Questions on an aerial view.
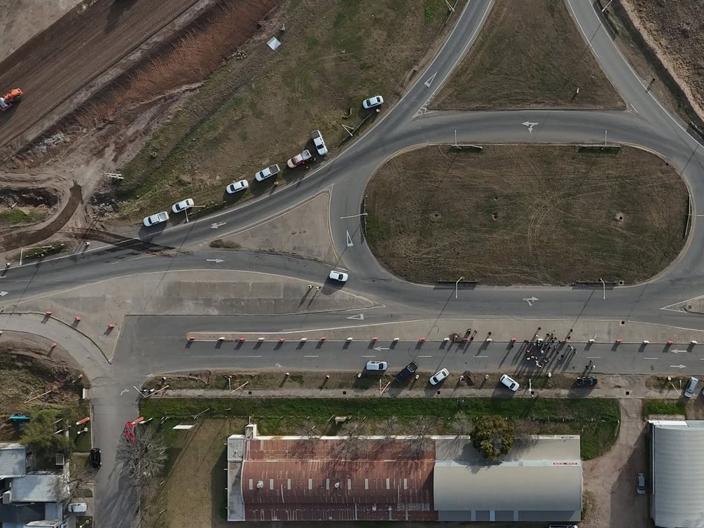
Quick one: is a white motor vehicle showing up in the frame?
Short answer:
Yes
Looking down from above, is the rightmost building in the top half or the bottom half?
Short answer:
bottom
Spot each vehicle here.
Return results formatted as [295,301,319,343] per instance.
[123,423,136,443]
[253,163,279,181]
[0,89,18,110]
[428,368,449,387]
[577,377,598,387]
[309,130,326,156]
[141,211,166,225]
[637,474,645,493]
[325,271,347,283]
[171,198,193,213]
[685,377,697,397]
[86,448,99,469]
[66,504,86,515]
[498,375,519,391]
[287,149,312,168]
[394,361,418,383]
[361,95,383,107]
[365,361,385,371]
[226,179,247,193]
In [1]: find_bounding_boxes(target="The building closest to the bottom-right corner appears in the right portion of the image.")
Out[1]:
[644,414,704,528]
